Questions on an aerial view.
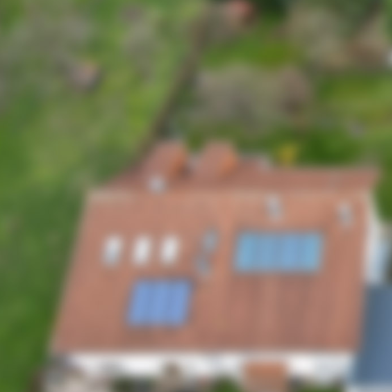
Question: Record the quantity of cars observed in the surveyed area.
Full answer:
The count of cars is 0.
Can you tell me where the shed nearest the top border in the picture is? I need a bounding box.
[223,0,258,30]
